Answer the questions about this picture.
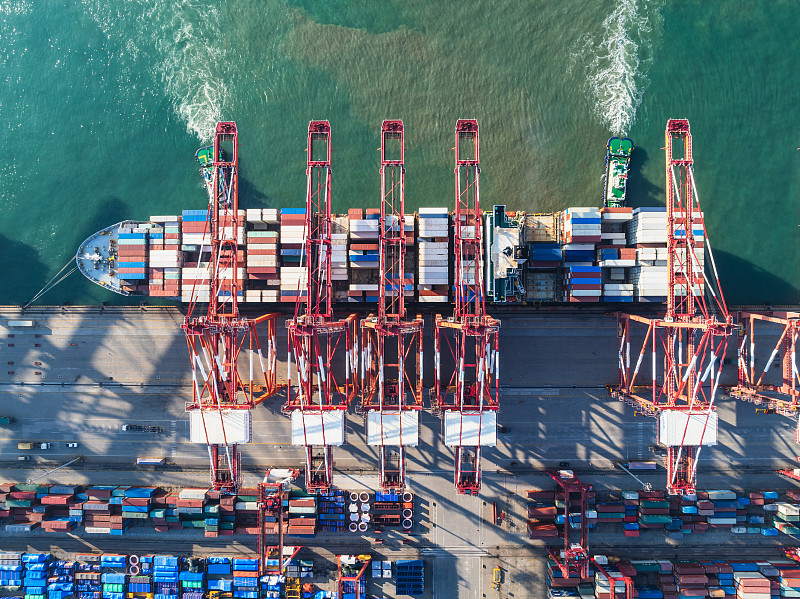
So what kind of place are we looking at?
port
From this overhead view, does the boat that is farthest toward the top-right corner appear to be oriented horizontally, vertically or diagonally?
vertically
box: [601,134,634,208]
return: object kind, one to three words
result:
boat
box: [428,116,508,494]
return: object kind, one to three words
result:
container crane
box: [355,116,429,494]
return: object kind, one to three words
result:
container crane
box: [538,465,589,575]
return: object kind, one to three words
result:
crane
